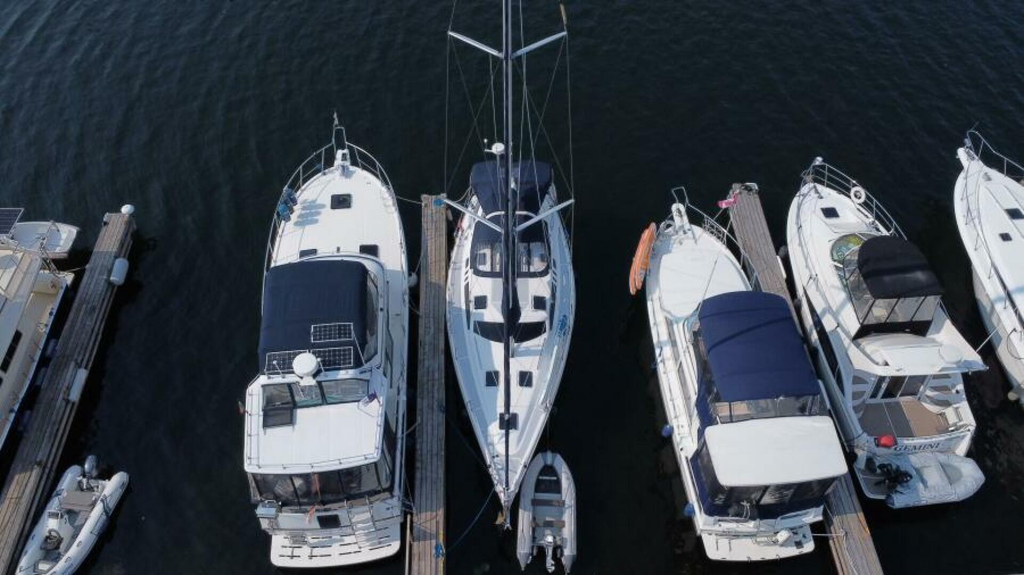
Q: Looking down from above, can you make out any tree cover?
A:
No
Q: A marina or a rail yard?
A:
marina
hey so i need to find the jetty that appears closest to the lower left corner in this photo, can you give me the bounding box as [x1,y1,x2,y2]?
[0,210,137,575]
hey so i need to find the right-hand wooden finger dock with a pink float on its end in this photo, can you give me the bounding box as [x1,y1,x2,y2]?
[726,184,885,575]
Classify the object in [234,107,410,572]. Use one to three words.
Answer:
boat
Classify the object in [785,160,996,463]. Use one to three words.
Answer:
boat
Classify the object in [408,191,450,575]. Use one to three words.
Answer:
pier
